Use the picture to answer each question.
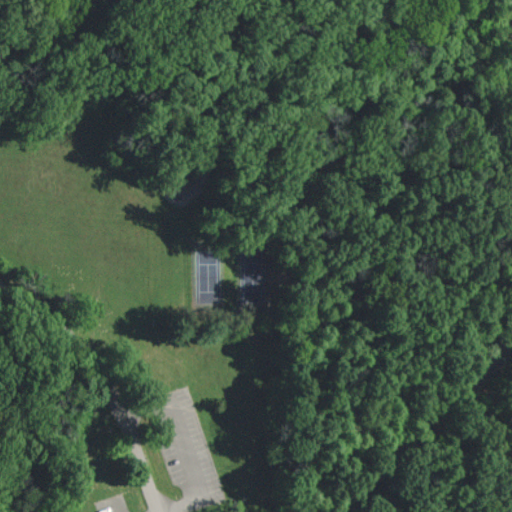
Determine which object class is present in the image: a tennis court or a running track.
tennis court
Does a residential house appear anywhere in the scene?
No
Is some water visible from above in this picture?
No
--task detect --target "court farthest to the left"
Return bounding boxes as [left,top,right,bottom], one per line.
[194,250,221,308]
